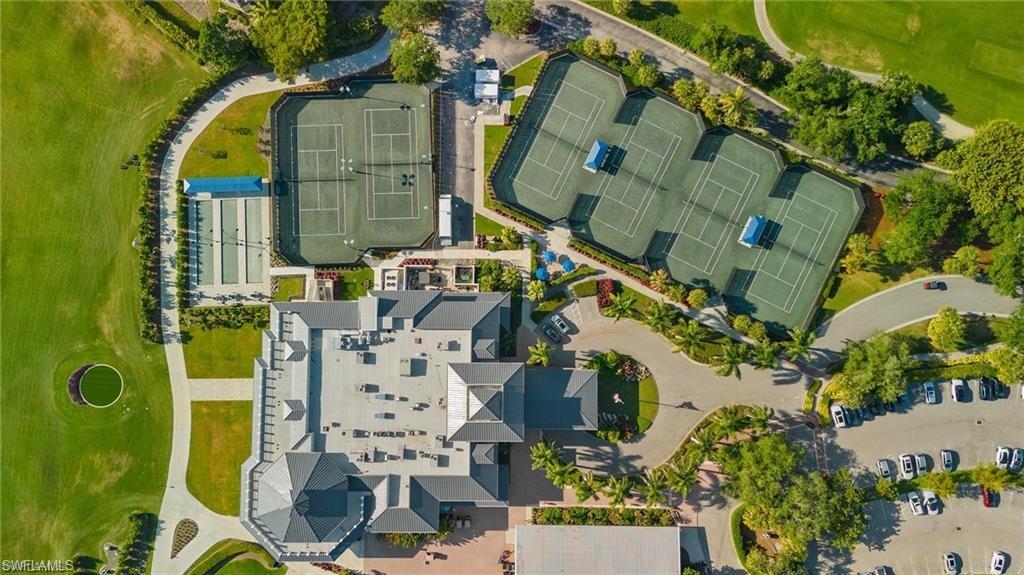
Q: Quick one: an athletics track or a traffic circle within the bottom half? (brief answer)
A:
traffic circle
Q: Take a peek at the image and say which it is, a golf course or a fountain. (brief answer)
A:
golf course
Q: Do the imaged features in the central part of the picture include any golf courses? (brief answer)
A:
No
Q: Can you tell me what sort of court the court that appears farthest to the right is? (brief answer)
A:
tennis court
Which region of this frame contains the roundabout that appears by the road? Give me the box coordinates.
[541,298,820,479]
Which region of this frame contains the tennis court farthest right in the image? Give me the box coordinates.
[726,168,860,334]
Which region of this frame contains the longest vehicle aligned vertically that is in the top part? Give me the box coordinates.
[439,195,452,248]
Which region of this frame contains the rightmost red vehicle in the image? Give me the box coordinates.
[980,486,993,507]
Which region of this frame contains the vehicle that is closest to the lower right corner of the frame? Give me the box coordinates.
[988,551,1005,574]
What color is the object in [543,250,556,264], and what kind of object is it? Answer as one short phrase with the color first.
blue umbrella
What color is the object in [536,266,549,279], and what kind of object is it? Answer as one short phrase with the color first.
blue umbrella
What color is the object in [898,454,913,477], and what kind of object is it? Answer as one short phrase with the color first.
white car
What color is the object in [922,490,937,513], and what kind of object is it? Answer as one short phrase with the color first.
white car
